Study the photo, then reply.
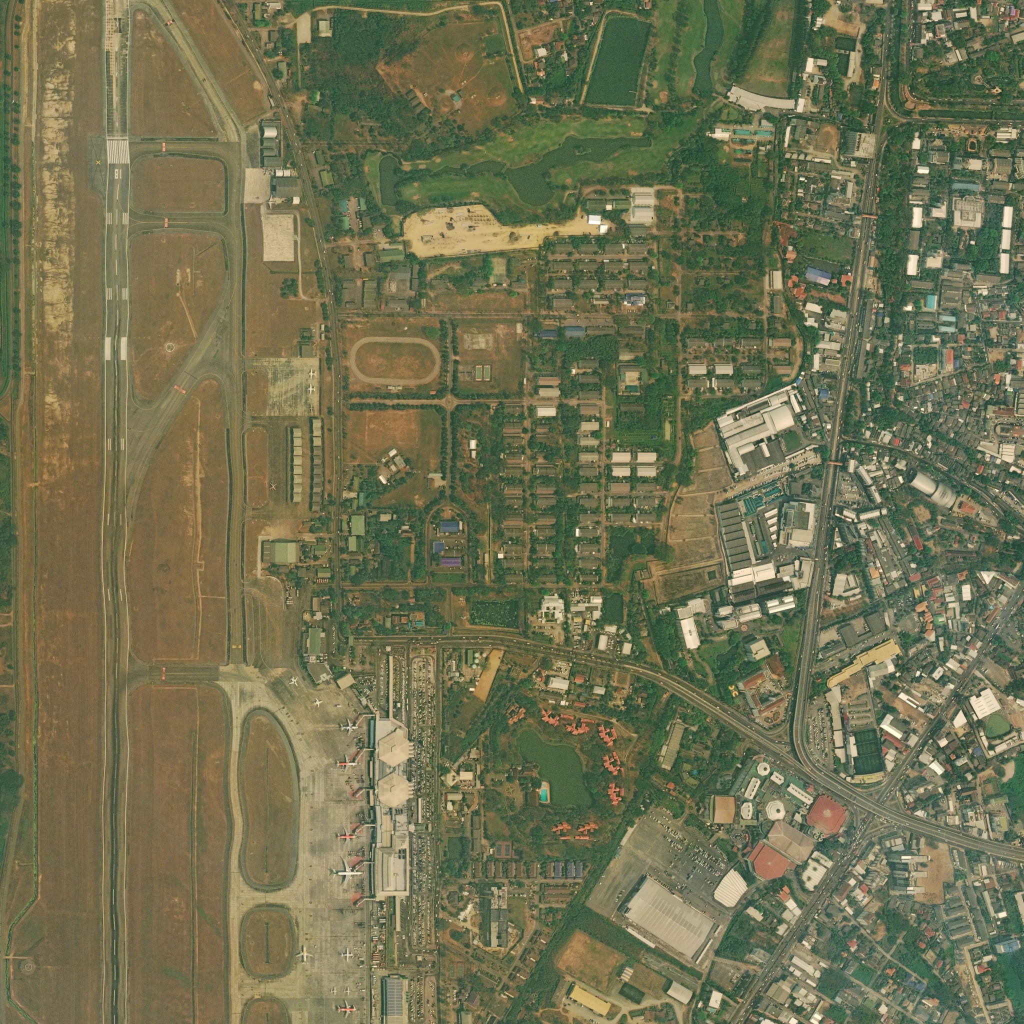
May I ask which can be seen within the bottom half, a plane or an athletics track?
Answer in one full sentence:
What appears within the bottom half is a plane.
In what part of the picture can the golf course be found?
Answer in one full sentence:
The golf course is in the top part of the image.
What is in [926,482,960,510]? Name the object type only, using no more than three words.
building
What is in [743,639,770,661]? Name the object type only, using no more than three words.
building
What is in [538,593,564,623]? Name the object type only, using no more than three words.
house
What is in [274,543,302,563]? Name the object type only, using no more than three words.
hangar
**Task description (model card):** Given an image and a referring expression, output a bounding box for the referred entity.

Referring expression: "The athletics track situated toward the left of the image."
[350,337,441,385]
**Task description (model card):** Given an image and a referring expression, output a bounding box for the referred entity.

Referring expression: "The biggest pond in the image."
[585,14,652,106]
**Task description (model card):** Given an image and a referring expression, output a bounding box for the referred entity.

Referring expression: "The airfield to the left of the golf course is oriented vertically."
[88,0,369,1024]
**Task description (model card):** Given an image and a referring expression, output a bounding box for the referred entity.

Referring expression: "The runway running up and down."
[102,0,130,1024]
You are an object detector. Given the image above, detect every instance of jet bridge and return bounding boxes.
[353,824,374,836]
[352,748,373,764]
[353,714,375,728]
[354,898,375,909]
[351,862,373,872]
